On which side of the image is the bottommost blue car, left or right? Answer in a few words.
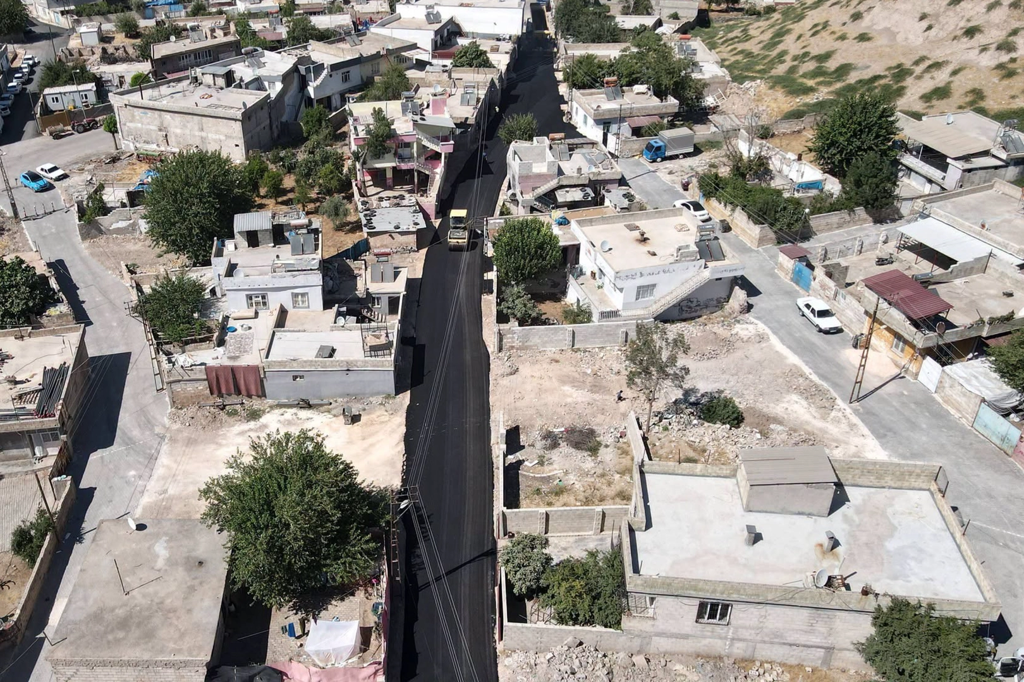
left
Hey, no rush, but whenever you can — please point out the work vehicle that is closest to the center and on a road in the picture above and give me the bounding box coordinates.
[445,212,470,255]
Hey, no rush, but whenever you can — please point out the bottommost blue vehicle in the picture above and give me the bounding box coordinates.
[17,171,50,192]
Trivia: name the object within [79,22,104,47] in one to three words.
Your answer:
shed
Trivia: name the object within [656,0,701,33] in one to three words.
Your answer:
house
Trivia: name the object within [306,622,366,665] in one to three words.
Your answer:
tent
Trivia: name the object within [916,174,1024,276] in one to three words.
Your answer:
house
